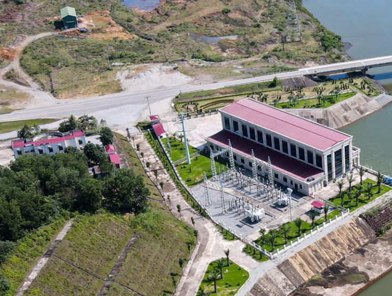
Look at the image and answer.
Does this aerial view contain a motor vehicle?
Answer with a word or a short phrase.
No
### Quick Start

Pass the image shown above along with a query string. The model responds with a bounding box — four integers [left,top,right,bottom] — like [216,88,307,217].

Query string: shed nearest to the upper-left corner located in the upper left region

[57,4,80,27]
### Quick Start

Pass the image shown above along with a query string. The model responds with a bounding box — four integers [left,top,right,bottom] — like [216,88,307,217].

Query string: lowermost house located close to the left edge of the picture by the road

[9,120,86,158]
